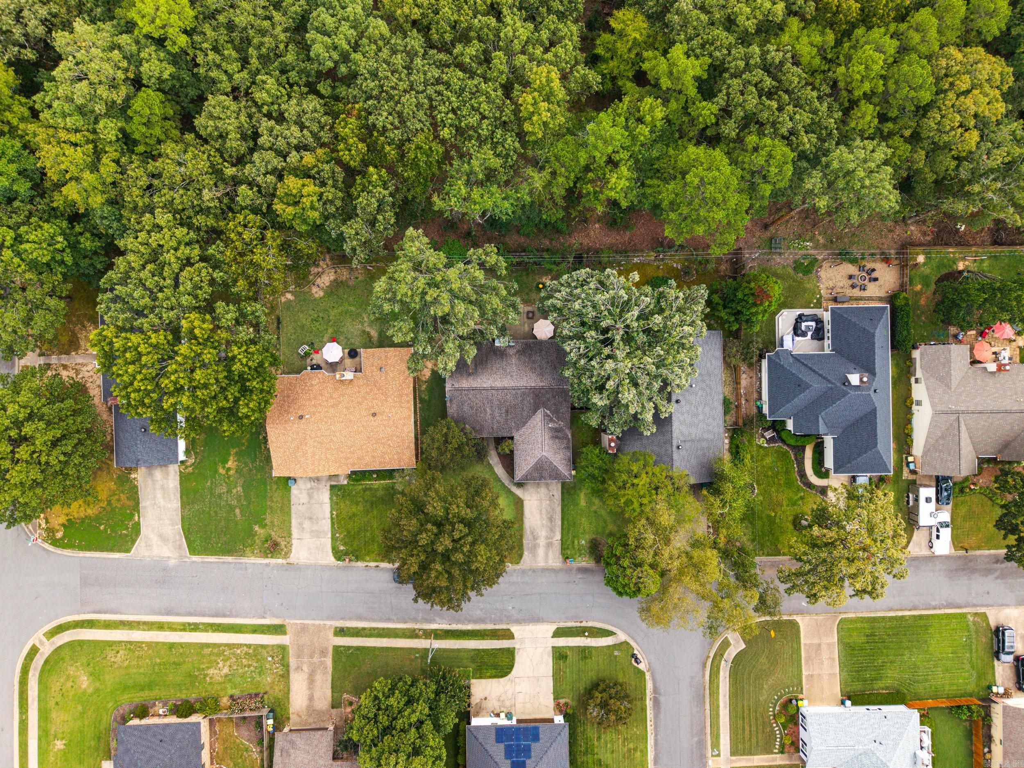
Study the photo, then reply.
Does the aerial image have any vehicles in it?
Yes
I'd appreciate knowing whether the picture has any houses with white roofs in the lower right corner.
Yes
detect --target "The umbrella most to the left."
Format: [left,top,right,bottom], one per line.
[323,342,343,362]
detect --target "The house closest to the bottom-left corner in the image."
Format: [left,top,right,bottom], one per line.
[113,714,209,768]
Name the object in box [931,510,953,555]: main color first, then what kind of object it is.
white truck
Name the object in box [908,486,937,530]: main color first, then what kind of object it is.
white vehicle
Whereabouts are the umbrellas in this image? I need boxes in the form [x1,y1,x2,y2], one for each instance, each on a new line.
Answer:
[323,342,343,362]
[533,319,552,340]
[970,341,993,361]
[991,319,1015,342]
